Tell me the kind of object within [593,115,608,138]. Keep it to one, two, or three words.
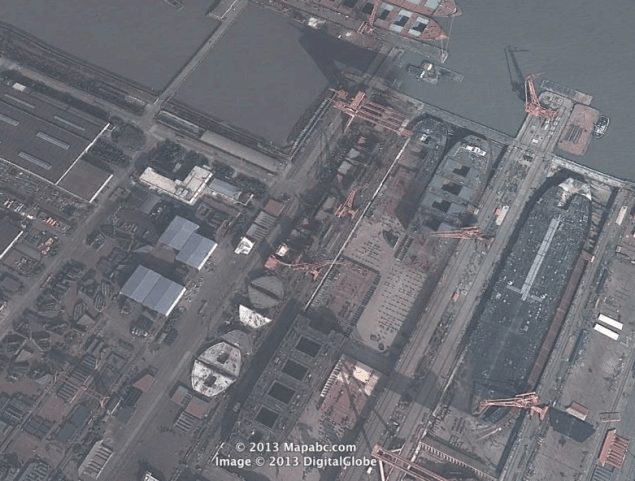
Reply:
boat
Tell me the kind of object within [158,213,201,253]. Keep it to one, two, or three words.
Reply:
building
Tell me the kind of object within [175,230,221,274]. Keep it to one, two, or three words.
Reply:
building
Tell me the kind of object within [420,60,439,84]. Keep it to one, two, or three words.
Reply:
vessel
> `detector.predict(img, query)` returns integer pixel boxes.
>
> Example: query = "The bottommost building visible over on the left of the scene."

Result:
[119,263,191,319]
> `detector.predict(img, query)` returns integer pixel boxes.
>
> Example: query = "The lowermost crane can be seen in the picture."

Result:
[368,441,456,481]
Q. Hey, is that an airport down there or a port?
port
